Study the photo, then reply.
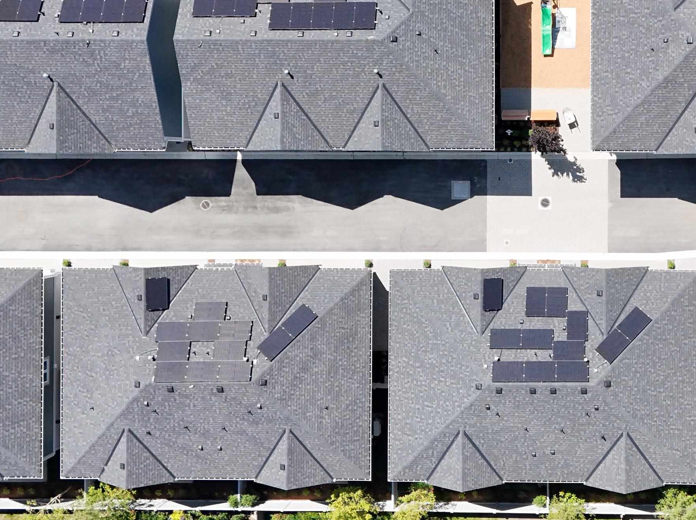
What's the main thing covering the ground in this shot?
buildings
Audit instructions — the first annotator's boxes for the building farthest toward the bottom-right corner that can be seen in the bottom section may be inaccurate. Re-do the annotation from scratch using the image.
[390,262,696,492]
